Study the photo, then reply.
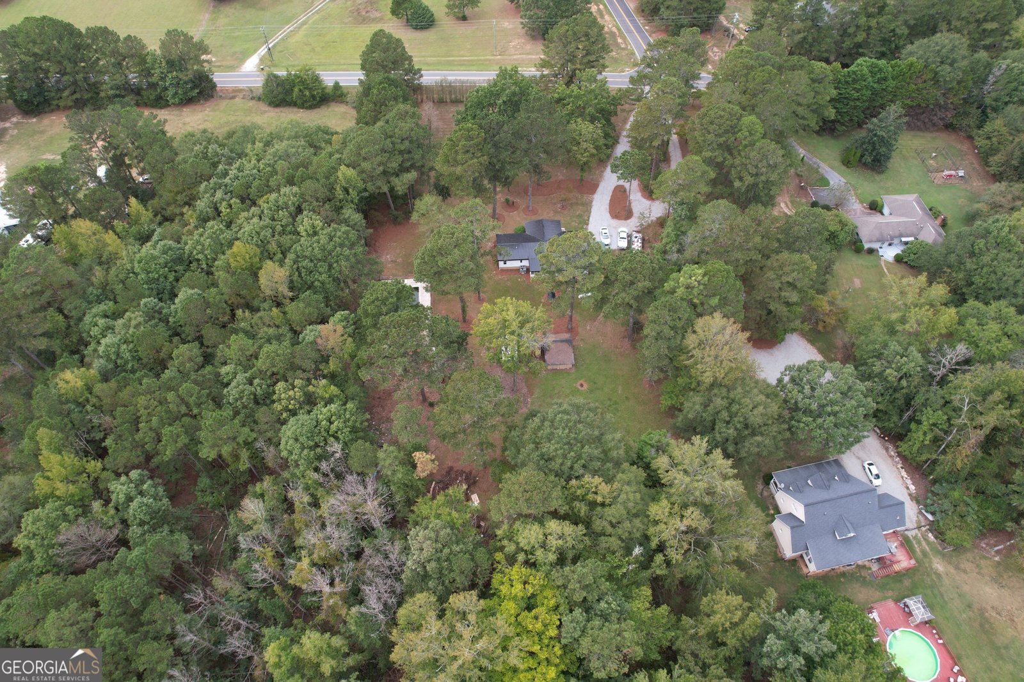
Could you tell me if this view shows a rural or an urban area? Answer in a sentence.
The area shown here is rural.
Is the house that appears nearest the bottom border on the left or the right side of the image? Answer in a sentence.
It is on the right.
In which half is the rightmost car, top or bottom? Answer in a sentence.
Seen from above, the rightmost car lies in the bottom half of the view.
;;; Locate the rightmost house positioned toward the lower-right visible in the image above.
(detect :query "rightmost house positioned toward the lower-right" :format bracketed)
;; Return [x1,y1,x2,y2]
[769,458,910,574]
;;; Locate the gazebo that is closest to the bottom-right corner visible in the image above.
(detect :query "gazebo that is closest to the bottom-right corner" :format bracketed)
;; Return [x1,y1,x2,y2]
[897,596,934,626]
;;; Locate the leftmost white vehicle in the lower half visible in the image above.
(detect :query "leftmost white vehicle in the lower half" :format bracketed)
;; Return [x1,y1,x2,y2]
[861,459,885,489]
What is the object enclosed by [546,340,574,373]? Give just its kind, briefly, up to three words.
building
